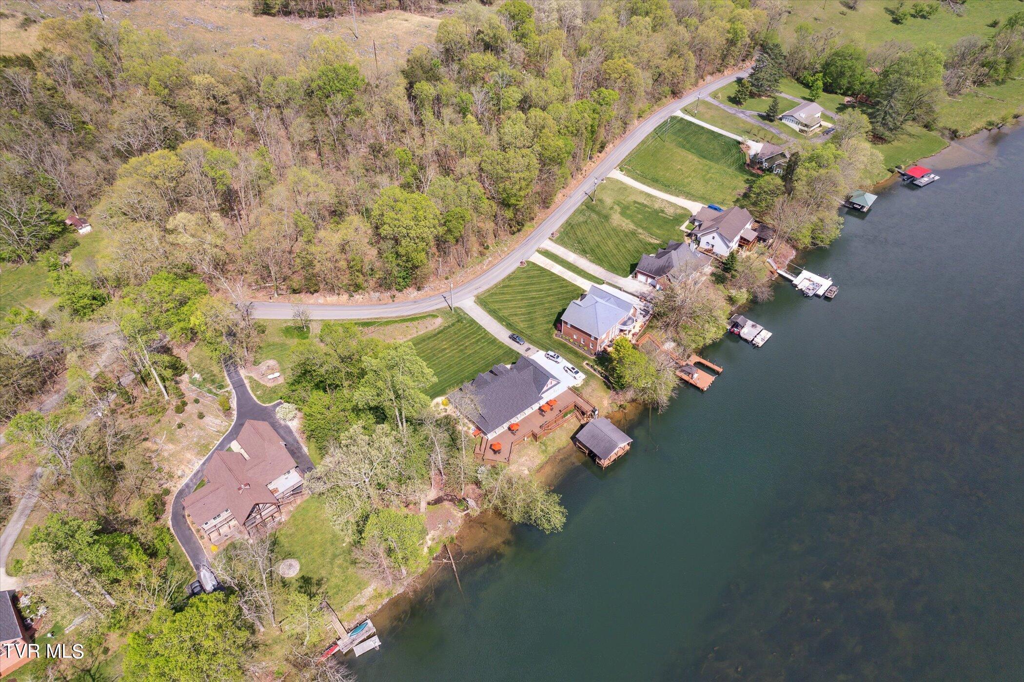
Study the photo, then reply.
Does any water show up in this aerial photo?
Yes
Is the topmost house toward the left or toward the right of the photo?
right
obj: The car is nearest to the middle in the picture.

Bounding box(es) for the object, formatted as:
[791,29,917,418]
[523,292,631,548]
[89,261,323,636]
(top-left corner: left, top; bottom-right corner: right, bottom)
[507,331,527,347]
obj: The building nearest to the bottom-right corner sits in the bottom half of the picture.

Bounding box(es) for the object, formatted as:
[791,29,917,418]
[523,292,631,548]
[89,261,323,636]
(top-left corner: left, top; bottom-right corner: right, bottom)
[575,418,633,470]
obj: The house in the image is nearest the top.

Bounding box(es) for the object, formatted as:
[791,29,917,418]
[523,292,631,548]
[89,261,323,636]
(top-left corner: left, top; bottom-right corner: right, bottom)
[781,100,824,137]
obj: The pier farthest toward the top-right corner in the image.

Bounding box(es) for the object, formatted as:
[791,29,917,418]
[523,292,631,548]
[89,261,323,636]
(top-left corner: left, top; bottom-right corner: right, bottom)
[895,165,939,187]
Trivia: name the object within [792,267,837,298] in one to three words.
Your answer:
pier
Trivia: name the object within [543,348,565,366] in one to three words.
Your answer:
car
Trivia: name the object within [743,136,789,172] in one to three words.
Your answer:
house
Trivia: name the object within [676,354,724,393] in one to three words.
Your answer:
pier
